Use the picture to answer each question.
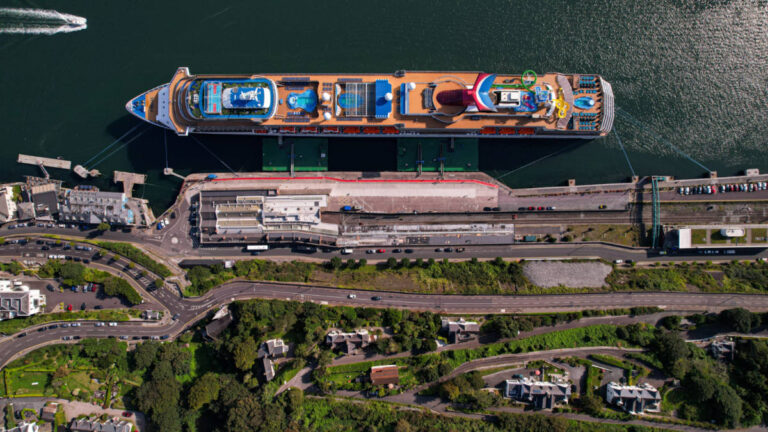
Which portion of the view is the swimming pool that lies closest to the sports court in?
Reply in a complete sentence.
The swimming pool that lies closest to the sports court is in the top part of the image.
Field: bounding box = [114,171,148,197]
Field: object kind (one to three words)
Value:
pier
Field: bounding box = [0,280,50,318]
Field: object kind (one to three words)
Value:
house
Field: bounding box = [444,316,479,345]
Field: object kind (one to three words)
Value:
house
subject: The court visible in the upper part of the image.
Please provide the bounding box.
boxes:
[204,81,224,115]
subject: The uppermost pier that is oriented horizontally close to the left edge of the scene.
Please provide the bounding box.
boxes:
[17,154,72,170]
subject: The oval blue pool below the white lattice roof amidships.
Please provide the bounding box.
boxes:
[339,92,368,109]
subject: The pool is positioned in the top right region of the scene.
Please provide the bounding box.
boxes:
[574,97,594,109]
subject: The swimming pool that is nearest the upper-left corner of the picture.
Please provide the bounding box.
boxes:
[288,90,317,112]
